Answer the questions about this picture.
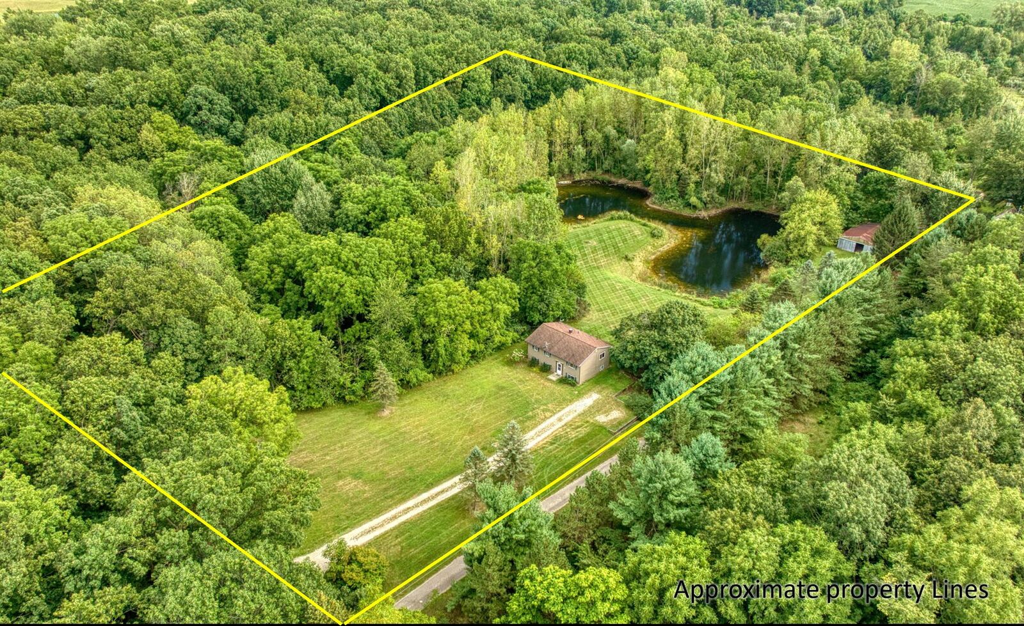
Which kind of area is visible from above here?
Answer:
forest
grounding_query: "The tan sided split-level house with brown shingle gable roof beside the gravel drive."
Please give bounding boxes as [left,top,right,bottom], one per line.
[527,321,608,384]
